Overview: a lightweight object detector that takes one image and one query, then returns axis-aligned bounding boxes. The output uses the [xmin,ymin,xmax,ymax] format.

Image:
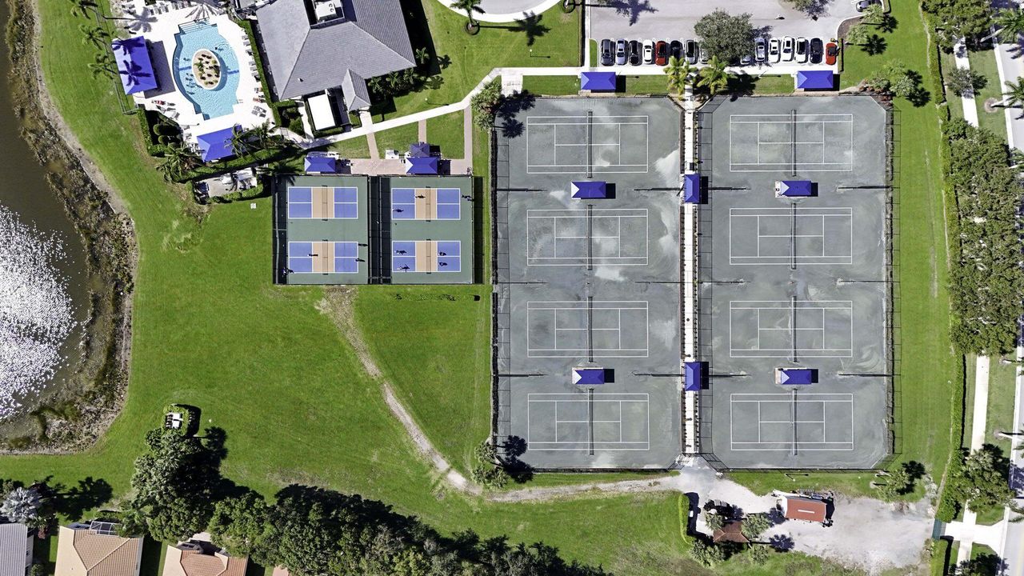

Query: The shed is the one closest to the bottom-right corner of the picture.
[780,495,827,523]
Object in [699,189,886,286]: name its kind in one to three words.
tennis court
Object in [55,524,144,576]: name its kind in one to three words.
house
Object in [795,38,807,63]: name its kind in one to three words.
vehicle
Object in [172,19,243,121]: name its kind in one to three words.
swimming pool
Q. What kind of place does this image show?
sports ground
